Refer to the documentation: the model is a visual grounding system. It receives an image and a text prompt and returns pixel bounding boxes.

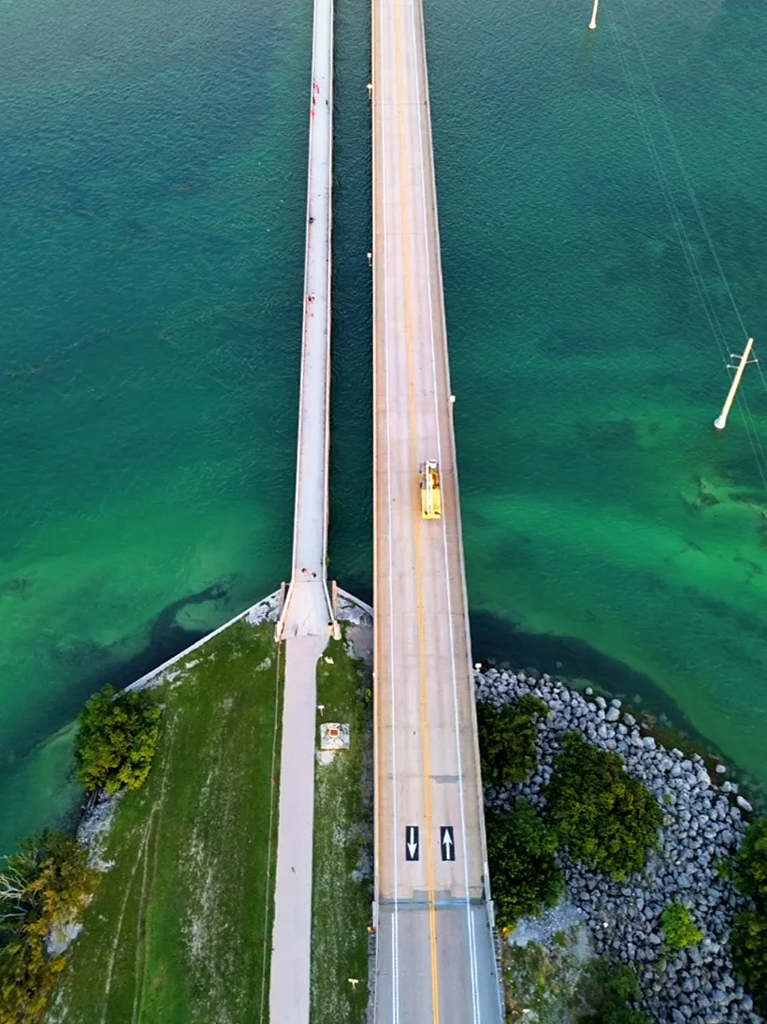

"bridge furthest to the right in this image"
[371,0,497,932]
